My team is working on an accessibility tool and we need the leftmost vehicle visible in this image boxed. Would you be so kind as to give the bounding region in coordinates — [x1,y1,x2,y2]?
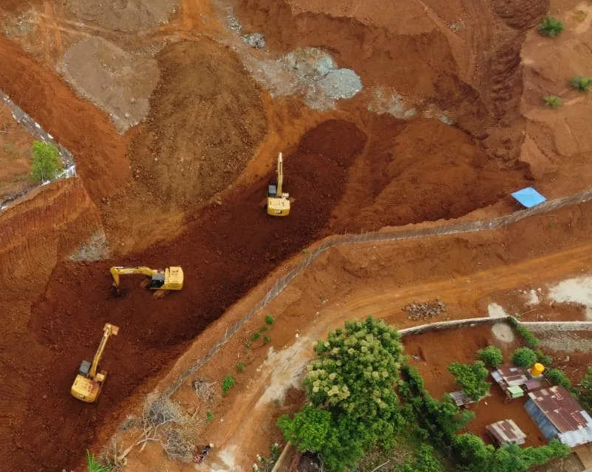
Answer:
[73,331,115,406]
